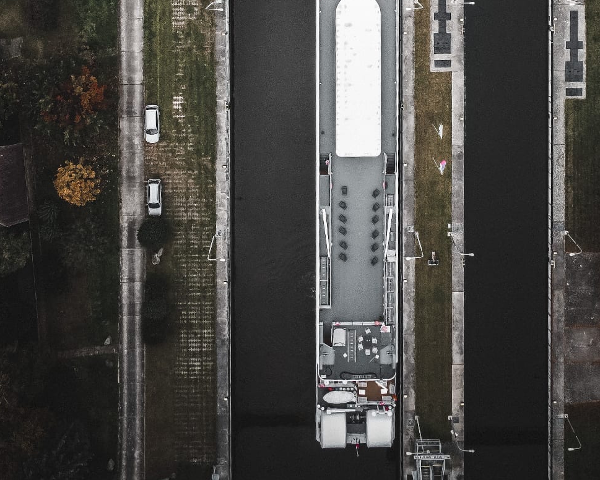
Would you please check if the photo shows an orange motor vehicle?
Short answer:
No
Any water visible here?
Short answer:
Yes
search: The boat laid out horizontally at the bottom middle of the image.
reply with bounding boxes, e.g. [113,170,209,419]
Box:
[323,390,356,402]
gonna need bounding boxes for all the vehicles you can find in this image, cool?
[145,181,161,216]
[142,107,159,143]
